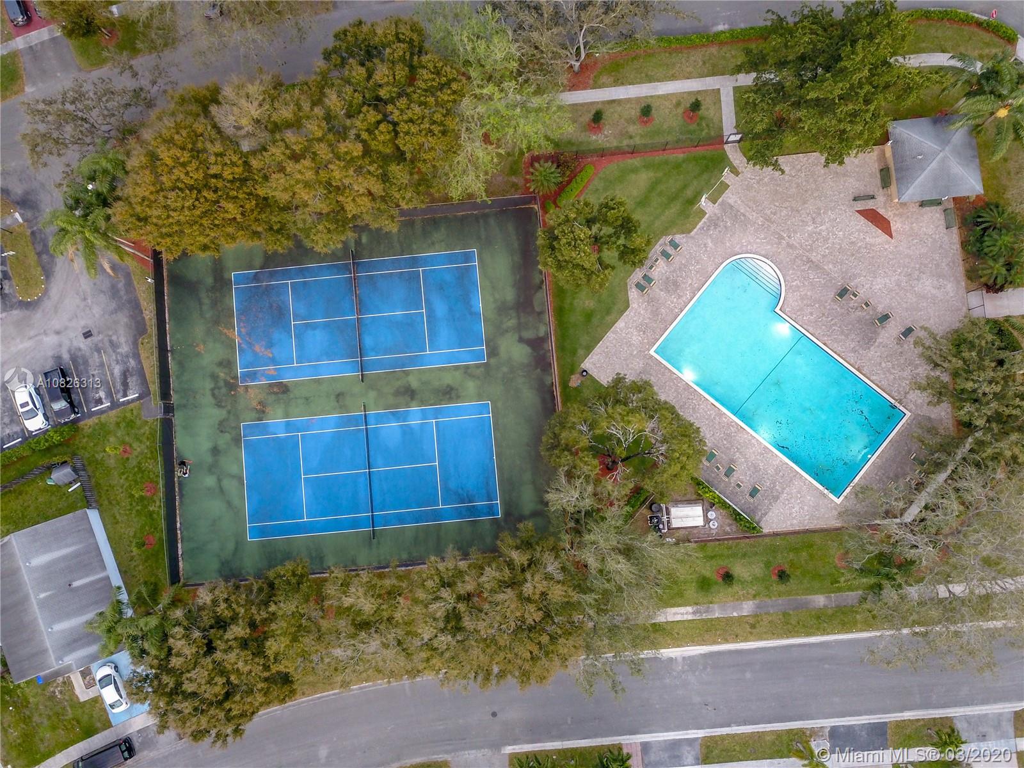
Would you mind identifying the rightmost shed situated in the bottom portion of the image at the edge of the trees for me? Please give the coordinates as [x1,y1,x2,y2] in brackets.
[666,499,709,533]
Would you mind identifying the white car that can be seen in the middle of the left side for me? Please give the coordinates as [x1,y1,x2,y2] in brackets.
[12,382,49,434]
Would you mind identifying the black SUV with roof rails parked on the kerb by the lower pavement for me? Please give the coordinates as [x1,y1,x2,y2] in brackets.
[76,735,133,768]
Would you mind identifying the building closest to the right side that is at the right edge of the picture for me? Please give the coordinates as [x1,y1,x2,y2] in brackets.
[880,115,984,206]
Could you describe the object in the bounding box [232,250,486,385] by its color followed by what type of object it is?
blue tennis court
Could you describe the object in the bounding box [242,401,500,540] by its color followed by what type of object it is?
blue tennis court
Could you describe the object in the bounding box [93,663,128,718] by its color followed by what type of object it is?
white car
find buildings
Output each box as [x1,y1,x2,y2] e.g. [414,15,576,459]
[0,509,136,685]
[666,499,709,533]
[880,115,984,206]
[51,463,87,484]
